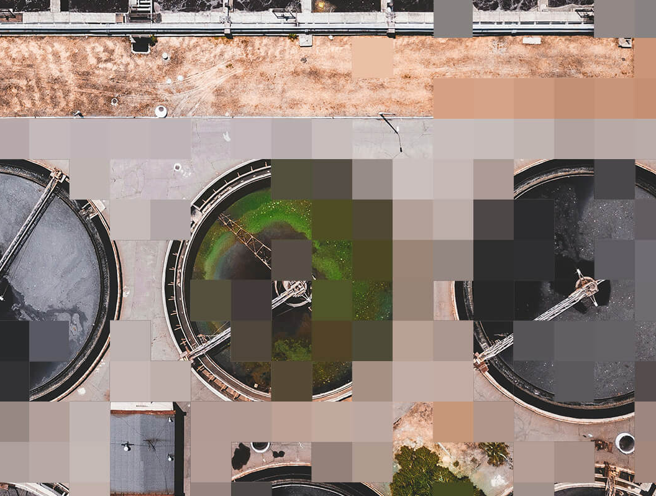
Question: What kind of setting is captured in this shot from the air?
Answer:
industrial area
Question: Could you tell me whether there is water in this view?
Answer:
Yes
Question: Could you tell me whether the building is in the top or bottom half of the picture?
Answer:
bottom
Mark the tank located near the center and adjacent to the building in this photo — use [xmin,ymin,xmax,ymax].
[162,153,435,424]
